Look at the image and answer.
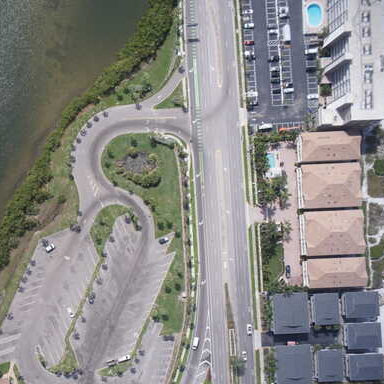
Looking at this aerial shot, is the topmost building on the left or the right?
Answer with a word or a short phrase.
right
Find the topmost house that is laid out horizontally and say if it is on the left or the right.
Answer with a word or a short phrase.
right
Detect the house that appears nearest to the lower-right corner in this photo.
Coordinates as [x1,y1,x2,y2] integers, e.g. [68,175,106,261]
[341,352,383,381]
